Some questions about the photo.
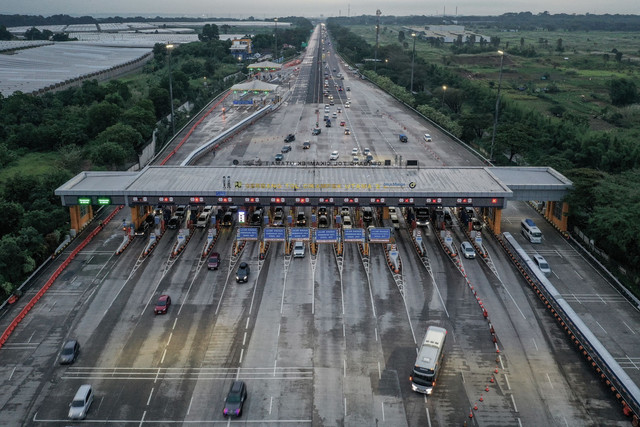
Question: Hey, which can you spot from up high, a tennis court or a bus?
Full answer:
The image shows a bus.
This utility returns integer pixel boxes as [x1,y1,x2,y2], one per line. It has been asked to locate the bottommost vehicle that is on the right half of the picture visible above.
[408,328,446,395]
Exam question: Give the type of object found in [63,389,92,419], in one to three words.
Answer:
car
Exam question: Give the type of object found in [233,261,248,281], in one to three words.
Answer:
car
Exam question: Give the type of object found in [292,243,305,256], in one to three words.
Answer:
vehicle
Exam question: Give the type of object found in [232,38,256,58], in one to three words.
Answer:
building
